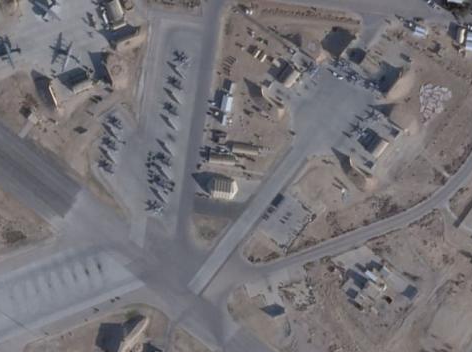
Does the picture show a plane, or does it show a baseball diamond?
plane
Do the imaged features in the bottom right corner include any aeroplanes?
No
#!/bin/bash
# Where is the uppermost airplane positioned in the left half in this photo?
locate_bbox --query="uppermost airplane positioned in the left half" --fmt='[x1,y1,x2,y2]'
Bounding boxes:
[34,0,60,24]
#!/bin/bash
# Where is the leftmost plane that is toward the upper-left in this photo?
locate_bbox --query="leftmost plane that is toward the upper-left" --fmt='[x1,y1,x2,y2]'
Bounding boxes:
[0,40,21,70]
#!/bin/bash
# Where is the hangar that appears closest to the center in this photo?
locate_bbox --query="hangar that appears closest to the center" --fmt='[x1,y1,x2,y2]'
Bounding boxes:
[213,178,236,199]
